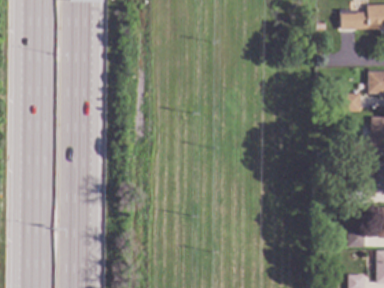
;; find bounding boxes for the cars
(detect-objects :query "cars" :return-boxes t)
[68,147,74,162]
[84,102,91,116]
[23,38,28,46]
[32,104,38,116]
